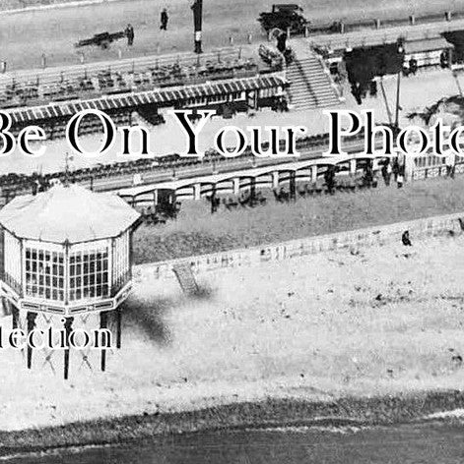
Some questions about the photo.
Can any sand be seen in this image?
Yes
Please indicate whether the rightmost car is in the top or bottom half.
top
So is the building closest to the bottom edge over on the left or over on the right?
left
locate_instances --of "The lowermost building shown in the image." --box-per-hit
[0,185,137,374]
